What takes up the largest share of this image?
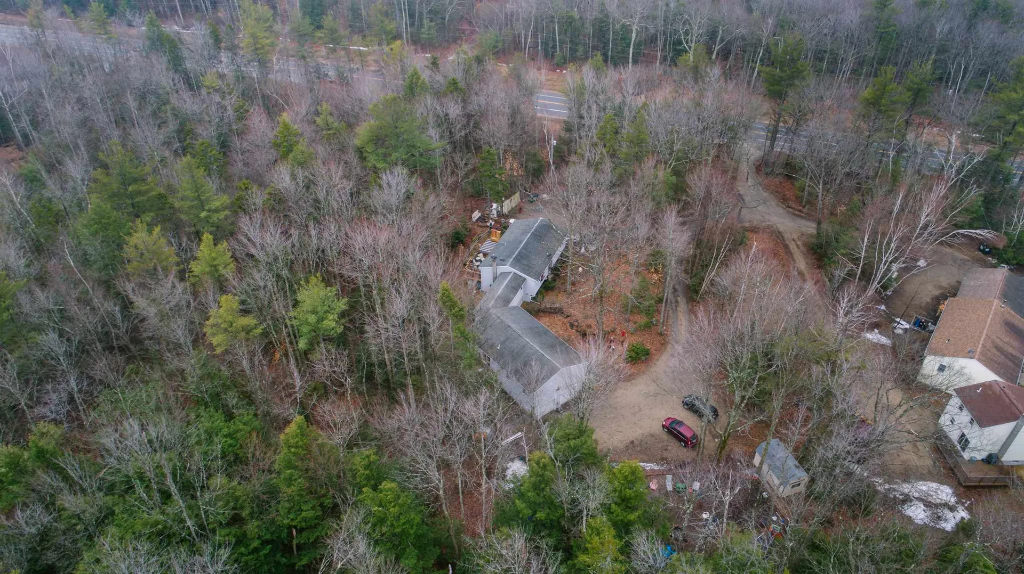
trees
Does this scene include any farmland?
No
